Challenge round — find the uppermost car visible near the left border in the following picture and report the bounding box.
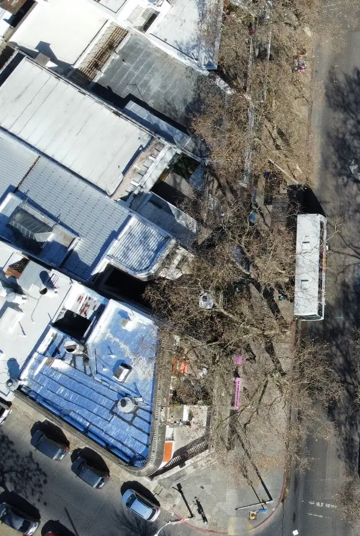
[0,405,18,431]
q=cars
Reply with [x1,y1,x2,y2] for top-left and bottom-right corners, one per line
[65,449,110,488]
[0,497,40,536]
[117,488,160,526]
[25,425,70,462]
[0,405,18,431]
